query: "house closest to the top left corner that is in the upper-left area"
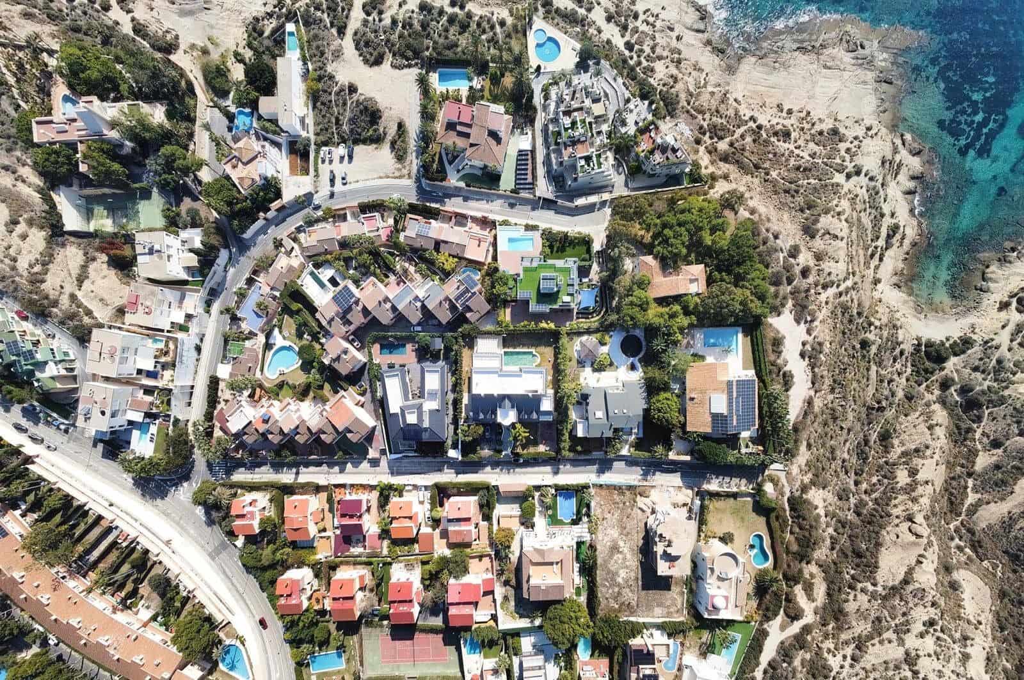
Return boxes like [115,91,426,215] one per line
[35,96,168,146]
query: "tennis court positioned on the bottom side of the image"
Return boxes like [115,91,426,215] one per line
[362,630,462,675]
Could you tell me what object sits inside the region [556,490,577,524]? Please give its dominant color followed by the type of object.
blue swimming pool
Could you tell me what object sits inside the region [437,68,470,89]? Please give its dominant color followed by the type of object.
blue swimming pool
